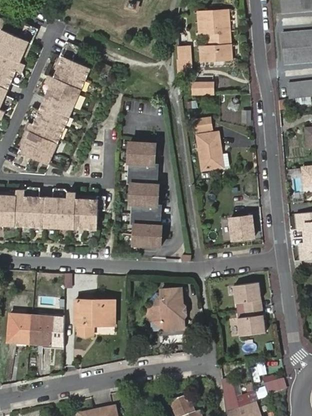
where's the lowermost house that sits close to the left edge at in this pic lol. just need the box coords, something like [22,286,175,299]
[6,312,65,348]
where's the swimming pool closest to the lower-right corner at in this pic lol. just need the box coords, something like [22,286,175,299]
[242,340,258,353]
